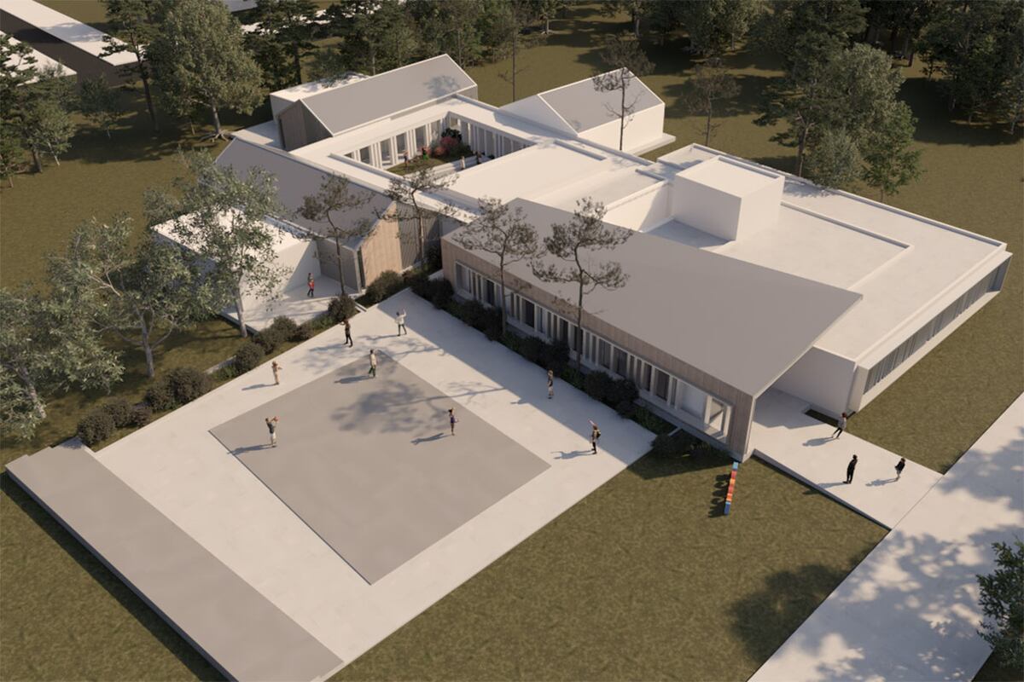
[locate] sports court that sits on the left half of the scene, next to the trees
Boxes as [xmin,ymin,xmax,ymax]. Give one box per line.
[209,348,551,583]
